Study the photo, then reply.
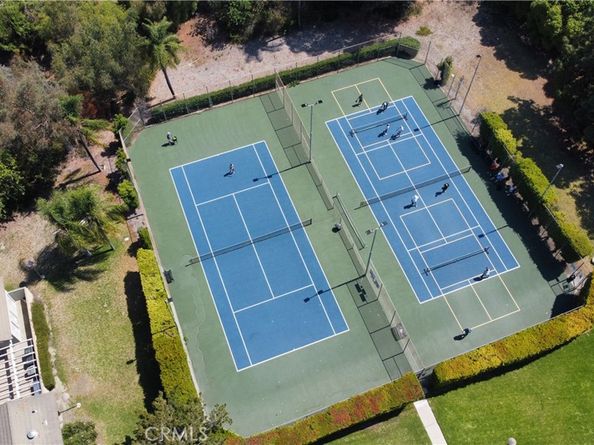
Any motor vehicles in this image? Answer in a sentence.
No, no motor vehicle is visible in the view.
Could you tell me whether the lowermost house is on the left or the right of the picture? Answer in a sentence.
It is on the left.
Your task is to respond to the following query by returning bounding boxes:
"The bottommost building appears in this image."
[0,392,71,445]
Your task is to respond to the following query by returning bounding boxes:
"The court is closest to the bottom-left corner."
[128,89,413,444]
